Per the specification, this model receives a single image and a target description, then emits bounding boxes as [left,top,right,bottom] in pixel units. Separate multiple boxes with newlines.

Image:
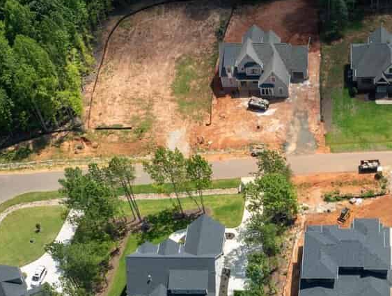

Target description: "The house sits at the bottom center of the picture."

[123,215,228,296]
